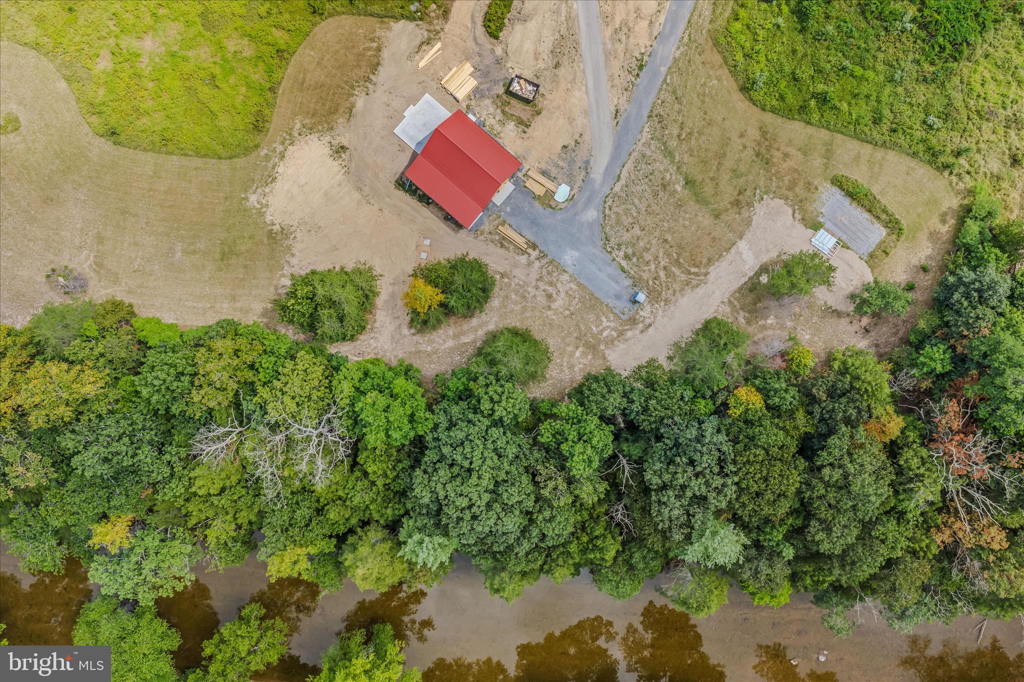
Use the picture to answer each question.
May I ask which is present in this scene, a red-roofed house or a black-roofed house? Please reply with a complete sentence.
Looking from above, you can make out a red-roofed house.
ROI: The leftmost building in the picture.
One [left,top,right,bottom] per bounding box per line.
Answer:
[404,109,523,232]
